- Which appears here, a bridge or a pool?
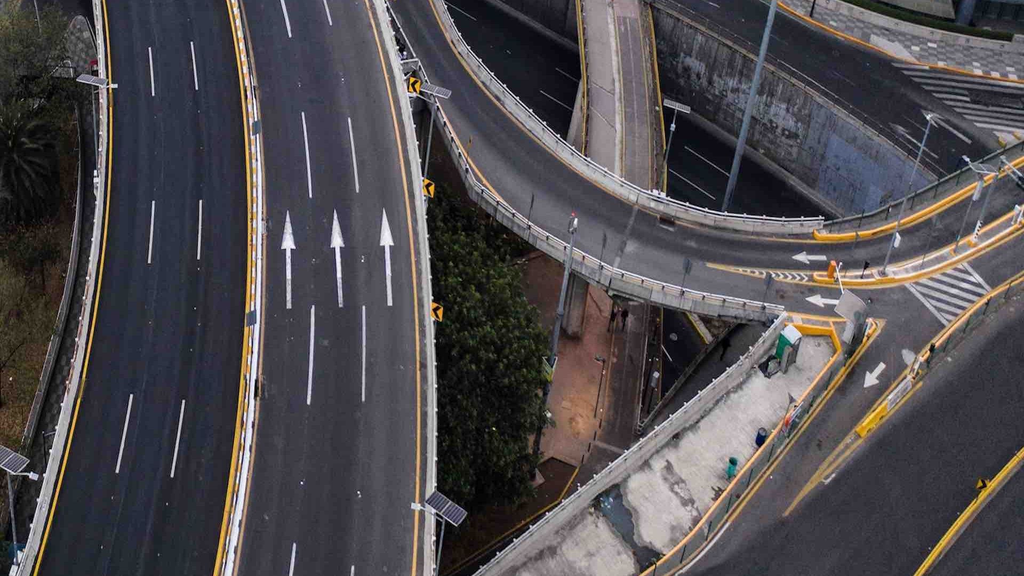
bridge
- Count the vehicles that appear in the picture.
0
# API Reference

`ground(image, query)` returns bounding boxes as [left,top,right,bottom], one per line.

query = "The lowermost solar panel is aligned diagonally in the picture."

[424,490,468,526]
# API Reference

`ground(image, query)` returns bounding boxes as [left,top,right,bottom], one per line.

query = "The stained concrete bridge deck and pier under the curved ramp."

[557,254,631,338]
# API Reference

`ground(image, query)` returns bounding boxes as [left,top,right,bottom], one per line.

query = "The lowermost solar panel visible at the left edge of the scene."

[0,445,29,474]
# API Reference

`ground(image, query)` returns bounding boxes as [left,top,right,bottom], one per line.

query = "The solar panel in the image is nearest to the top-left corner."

[76,73,109,87]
